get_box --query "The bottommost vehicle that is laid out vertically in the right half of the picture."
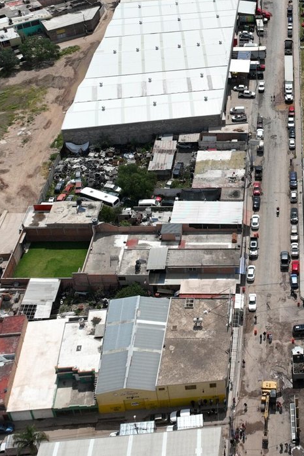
[262,378,276,431]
